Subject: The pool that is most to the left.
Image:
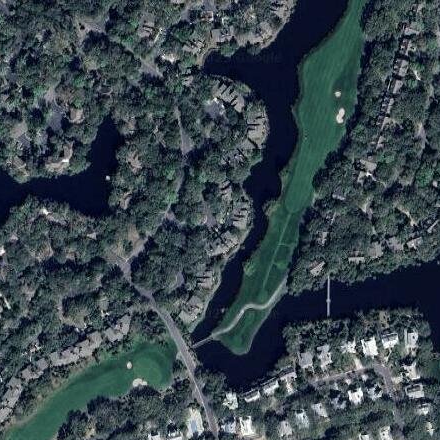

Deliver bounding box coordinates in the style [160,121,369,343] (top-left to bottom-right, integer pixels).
[186,407,203,436]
